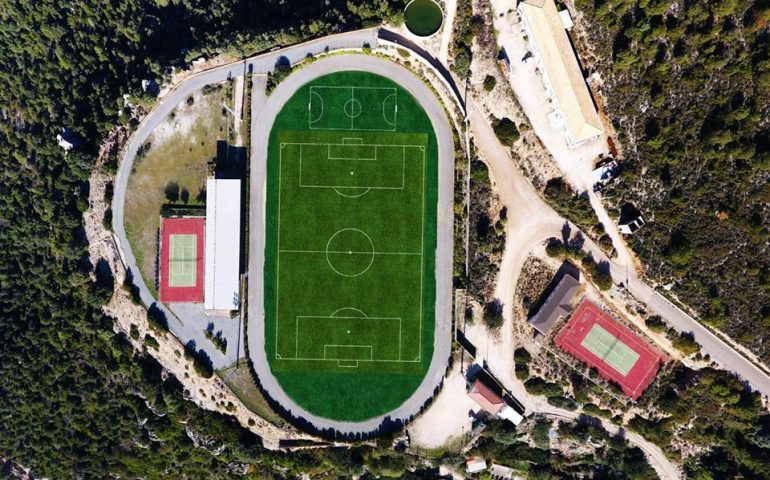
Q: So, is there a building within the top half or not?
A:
Yes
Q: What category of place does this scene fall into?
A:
sports ground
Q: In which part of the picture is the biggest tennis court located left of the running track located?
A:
left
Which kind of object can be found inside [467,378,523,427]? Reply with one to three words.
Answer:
house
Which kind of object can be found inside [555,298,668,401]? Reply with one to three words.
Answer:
tennis court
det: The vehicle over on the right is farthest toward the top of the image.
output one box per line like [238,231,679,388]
[496,58,511,80]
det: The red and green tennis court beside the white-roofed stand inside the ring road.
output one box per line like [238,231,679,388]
[160,218,205,302]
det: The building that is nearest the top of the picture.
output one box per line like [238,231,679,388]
[517,0,604,147]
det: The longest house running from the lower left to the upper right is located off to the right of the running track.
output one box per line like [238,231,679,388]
[527,274,581,347]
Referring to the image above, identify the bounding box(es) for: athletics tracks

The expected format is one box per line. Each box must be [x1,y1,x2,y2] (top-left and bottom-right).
[247,53,454,442]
